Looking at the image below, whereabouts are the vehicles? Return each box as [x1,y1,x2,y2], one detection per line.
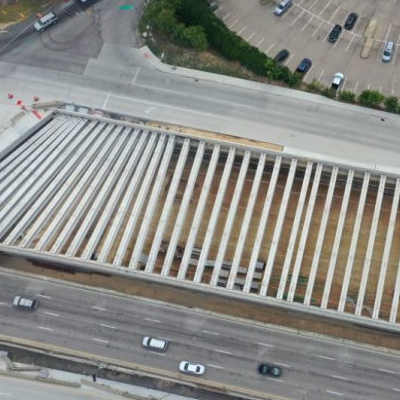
[258,363,283,377]
[328,23,343,43]
[14,295,38,310]
[273,47,292,64]
[328,68,347,94]
[143,336,170,351]
[36,12,57,30]
[343,10,358,31]
[180,361,205,375]
[274,0,293,16]
[295,56,313,77]
[382,40,395,62]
